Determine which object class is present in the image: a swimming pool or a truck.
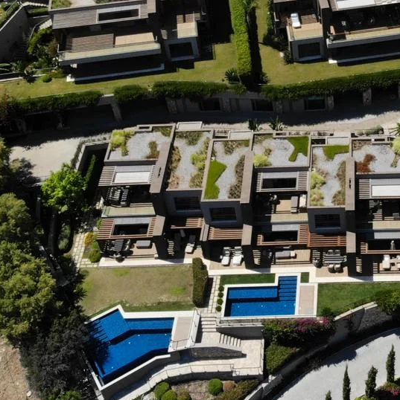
swimming pool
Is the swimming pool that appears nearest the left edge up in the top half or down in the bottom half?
bottom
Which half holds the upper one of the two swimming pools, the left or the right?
right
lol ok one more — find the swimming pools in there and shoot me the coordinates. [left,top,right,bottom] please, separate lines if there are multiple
[87,305,198,395]
[221,273,317,331]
